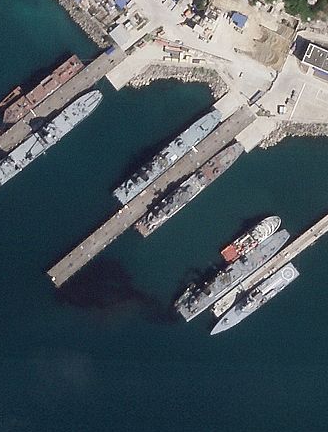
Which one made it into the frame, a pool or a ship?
ship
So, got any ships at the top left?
Yes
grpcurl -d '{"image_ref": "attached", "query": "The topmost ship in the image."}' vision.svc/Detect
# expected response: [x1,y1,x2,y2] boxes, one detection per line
[4,55,84,123]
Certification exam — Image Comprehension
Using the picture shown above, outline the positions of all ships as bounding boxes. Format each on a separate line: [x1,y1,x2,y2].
[0,93,102,187]
[4,55,84,123]
[135,145,242,237]
[220,217,280,263]
[176,230,289,321]
[114,113,222,205]
[210,263,299,335]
